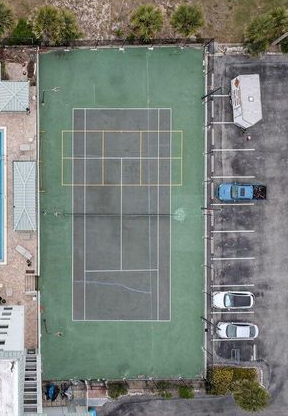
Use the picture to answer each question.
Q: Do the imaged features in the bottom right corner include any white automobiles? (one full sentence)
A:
Yes, a white automobile can be seen in the bottom right corner.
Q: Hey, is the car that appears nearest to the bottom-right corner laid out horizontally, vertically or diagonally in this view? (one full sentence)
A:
The car that appears nearest to the bottom-right corner is oriented horizontally.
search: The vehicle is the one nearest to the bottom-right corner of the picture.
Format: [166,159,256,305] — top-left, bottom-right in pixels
[216,320,258,340]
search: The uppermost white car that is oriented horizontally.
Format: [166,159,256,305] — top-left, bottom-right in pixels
[212,290,254,310]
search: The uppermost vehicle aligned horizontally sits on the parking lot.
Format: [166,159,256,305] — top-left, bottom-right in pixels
[216,182,268,202]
